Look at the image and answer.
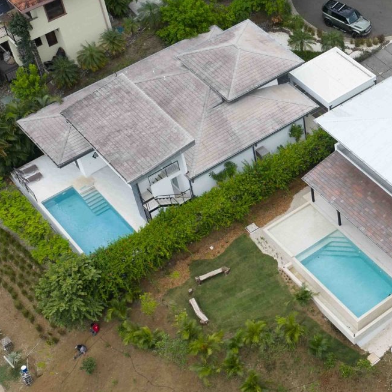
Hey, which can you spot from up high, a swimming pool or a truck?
swimming pool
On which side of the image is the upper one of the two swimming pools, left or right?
left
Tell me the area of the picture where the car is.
top right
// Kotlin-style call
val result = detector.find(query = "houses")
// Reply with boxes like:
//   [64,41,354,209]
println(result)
[0,0,110,61]
[8,18,321,275]
[262,78,392,347]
